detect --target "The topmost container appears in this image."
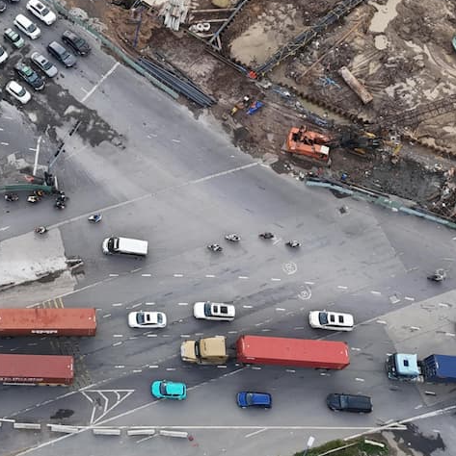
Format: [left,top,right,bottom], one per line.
[0,310,94,337]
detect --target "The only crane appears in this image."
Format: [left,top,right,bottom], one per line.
[293,96,456,165]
